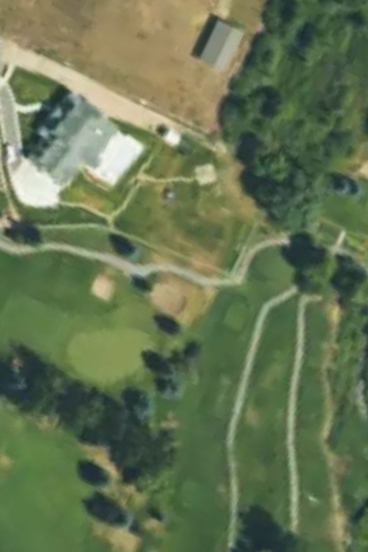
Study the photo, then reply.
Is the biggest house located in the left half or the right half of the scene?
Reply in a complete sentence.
It is on the left.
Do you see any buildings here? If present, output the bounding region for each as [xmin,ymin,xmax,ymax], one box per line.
[201,17,244,69]
[162,128,182,147]
[32,91,144,185]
